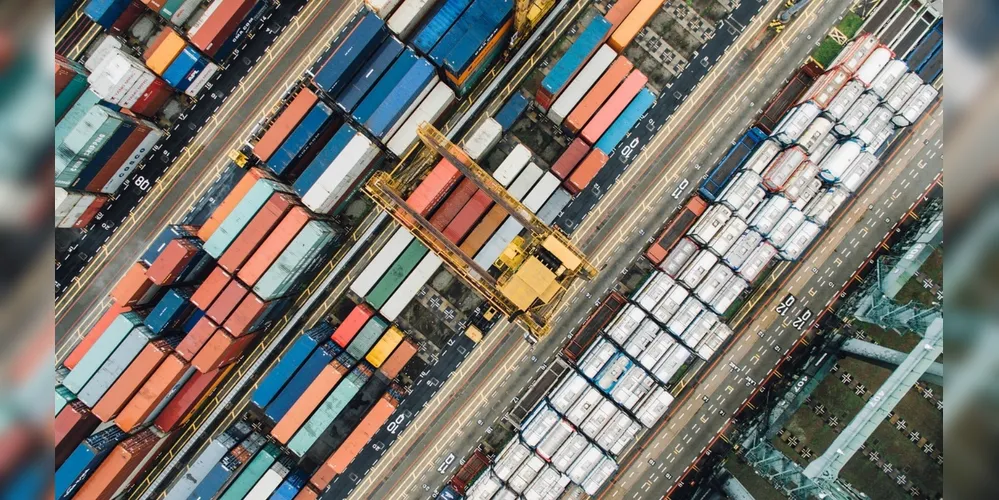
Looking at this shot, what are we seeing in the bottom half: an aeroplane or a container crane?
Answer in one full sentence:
The one visible in the bottom half is a container crane.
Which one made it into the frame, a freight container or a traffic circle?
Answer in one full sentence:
Visible in the photo is a freight container.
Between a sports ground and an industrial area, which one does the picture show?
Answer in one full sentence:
What you see here is an industrial area.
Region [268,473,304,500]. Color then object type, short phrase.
blue shipping container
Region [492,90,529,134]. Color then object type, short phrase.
blue shipping container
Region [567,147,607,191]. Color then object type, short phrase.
orange shipping container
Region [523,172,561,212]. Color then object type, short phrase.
white shipping container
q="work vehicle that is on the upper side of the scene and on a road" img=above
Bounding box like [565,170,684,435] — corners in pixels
[220,92,295,182]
